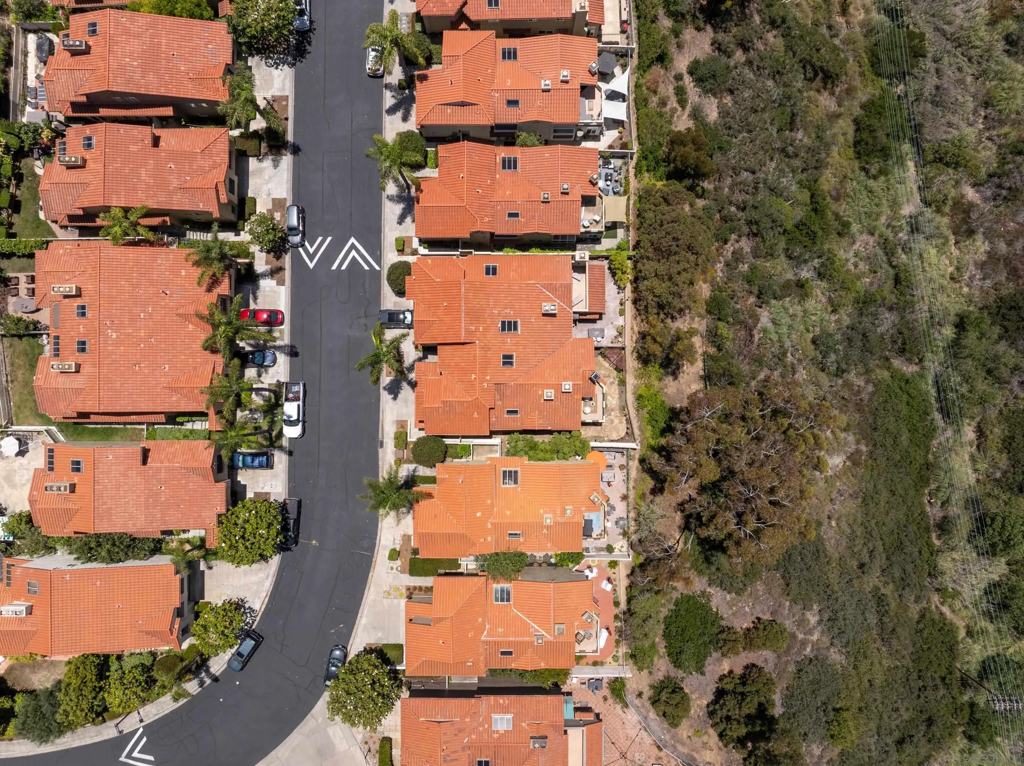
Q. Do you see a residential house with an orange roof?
Yes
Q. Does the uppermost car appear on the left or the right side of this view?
left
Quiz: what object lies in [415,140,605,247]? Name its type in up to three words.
house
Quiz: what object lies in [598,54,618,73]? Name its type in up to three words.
umbrella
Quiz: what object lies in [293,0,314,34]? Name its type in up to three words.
car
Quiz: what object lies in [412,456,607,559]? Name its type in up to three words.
house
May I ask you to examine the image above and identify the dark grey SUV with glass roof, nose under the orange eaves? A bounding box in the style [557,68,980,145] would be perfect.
[375,308,414,330]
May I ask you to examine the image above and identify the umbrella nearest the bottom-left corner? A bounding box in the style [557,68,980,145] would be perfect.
[0,436,28,457]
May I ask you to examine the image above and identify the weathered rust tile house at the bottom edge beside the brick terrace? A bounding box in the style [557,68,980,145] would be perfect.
[400,674,603,766]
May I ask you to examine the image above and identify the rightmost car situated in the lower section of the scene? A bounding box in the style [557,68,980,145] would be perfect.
[323,639,348,686]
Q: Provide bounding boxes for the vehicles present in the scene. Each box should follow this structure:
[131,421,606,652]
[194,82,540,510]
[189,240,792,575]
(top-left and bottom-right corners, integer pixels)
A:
[375,308,414,330]
[229,628,262,674]
[236,349,279,369]
[323,639,348,686]
[282,381,307,437]
[286,204,307,249]
[233,451,275,471]
[293,0,314,34]
[241,307,286,327]
[364,37,385,82]
[280,496,302,549]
